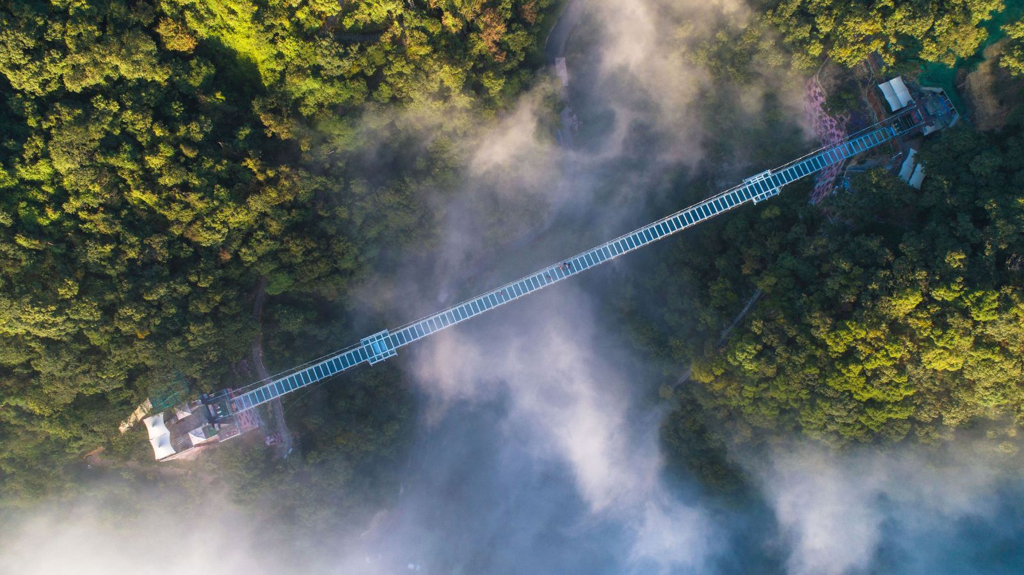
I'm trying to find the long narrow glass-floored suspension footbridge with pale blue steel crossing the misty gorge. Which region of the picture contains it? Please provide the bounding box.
[197,106,928,431]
